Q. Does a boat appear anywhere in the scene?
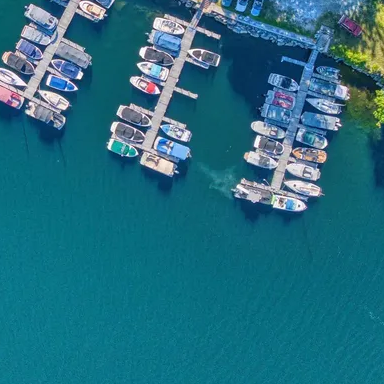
Yes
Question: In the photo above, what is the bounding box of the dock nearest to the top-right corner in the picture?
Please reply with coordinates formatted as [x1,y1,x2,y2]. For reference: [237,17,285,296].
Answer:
[239,46,342,202]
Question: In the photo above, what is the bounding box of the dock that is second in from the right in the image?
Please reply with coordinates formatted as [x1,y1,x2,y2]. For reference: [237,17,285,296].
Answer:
[111,6,221,163]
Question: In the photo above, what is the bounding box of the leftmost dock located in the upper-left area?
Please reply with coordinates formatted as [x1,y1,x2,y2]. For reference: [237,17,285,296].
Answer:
[0,0,97,113]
